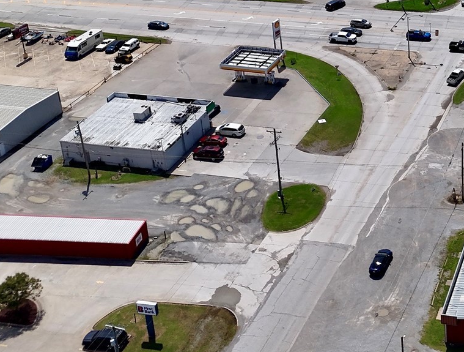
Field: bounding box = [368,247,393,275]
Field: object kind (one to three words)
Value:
car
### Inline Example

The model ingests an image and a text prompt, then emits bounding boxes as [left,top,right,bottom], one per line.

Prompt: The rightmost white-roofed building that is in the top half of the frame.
[56,92,211,174]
